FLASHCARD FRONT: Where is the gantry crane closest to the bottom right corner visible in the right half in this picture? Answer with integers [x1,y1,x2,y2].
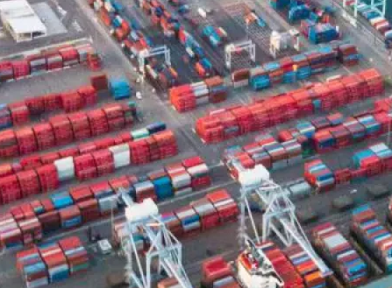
[227,167,334,282]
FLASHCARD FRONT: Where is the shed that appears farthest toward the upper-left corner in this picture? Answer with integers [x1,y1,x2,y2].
[0,0,47,43]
